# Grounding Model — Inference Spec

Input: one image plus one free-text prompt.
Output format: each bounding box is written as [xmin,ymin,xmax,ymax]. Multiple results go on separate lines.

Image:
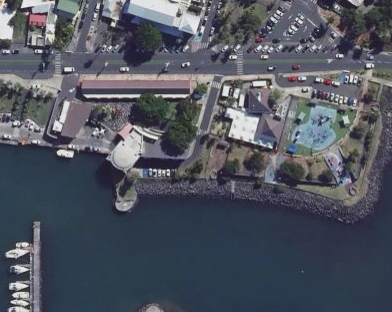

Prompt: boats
[13,291,31,298]
[16,241,31,247]
[10,265,32,273]
[10,282,30,289]
[57,150,76,158]
[6,247,31,257]
[11,298,32,305]
[8,306,32,312]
